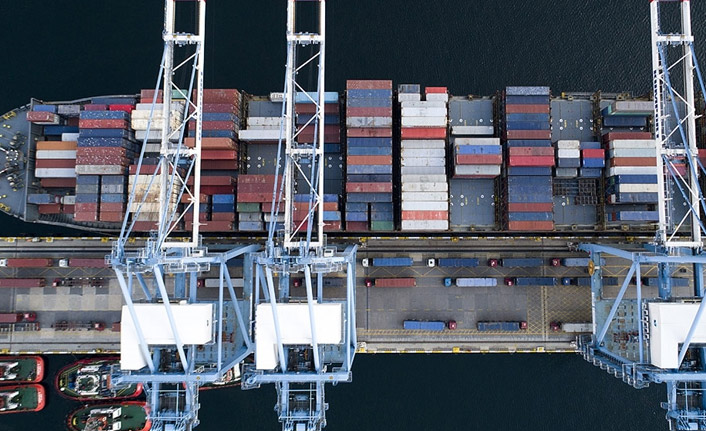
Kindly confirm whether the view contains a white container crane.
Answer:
Yes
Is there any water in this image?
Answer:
Yes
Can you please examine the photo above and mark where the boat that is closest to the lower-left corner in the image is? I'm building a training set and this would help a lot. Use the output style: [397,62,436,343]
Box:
[0,383,48,417]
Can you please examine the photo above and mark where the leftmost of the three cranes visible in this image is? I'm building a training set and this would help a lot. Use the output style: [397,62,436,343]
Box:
[110,0,276,431]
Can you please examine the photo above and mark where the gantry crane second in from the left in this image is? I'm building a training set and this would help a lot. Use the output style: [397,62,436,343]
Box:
[241,0,376,431]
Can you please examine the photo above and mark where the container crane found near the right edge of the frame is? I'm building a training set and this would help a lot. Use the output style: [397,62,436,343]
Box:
[560,0,706,431]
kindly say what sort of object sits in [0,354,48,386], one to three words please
boat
